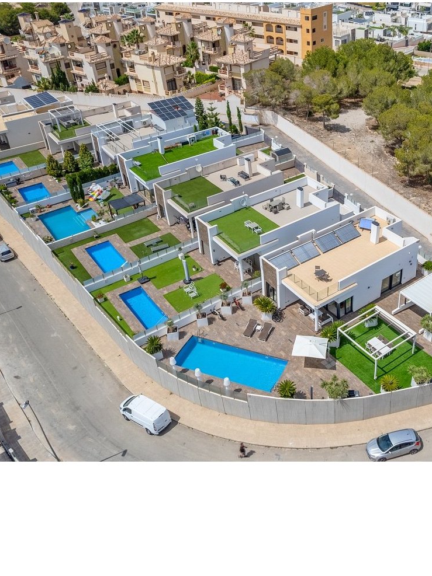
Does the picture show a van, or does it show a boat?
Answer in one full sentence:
Of the two, only a van appears.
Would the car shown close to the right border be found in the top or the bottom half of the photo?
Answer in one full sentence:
The car shown close to the right border sits in the bottom half of the picture.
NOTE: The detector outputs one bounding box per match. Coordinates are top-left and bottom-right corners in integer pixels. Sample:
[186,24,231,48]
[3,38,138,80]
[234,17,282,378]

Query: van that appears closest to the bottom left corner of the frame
[117,395,177,437]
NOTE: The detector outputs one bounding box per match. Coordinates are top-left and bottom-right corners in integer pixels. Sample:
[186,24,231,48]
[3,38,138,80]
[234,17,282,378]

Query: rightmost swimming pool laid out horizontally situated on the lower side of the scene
[177,331,288,392]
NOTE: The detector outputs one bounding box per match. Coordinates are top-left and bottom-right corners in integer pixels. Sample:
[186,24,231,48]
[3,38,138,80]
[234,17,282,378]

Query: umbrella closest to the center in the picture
[181,260,193,286]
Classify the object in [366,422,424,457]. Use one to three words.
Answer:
car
